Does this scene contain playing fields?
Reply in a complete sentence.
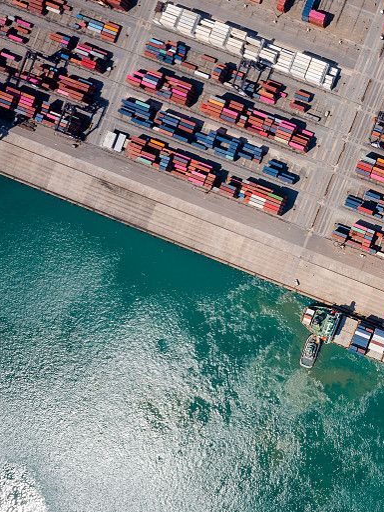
No, there isn't any playing field down there.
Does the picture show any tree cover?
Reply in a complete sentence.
No, the picture contains no tree cover.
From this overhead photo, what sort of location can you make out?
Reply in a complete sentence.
The picture captures a port.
